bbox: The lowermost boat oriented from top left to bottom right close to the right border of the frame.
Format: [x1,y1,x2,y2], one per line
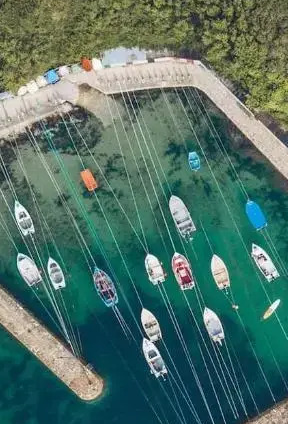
[252,243,280,285]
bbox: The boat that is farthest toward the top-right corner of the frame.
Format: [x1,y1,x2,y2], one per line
[188,151,200,172]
